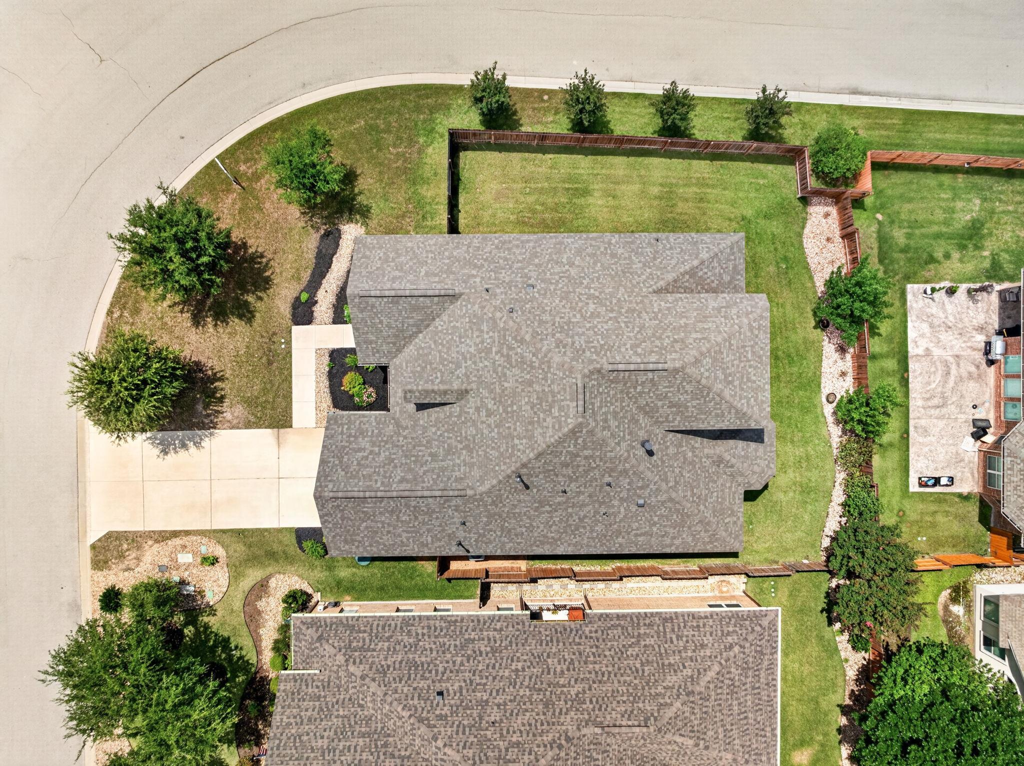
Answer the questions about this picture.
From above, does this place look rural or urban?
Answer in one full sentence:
The area is urban.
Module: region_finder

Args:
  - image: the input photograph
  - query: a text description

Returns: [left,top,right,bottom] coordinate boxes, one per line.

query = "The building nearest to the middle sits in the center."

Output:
[314,230,776,557]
